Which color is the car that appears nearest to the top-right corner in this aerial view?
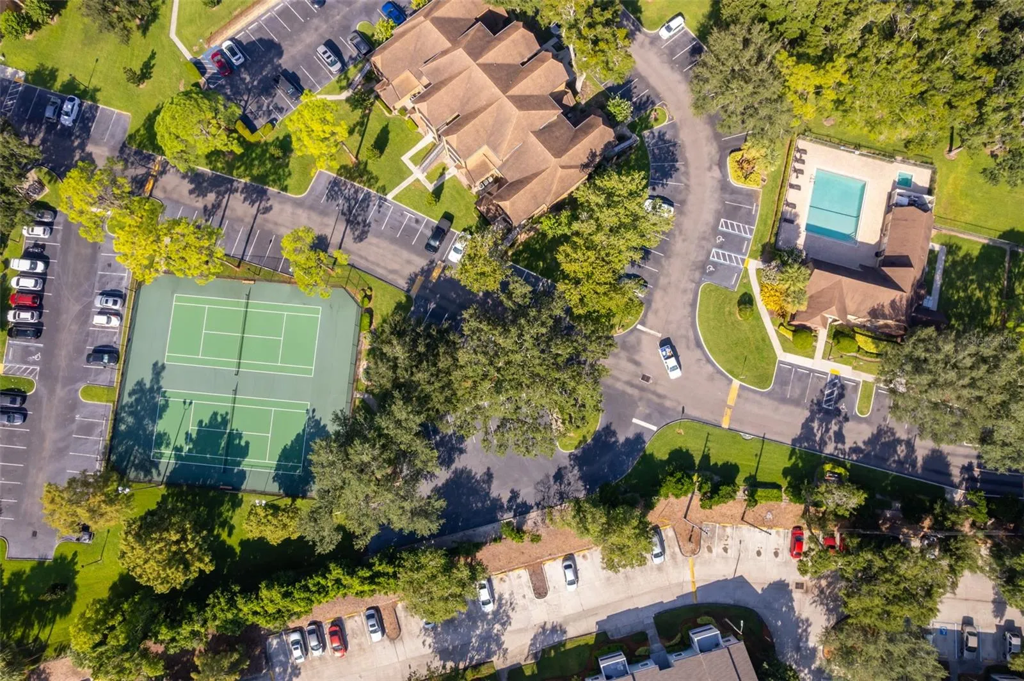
white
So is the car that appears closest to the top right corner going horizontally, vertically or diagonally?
diagonally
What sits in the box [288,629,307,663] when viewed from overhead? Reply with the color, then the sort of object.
white car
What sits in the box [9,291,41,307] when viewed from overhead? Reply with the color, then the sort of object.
red car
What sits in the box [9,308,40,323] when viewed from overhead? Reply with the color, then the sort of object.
white car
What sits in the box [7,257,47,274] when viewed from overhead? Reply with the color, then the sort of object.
white vehicle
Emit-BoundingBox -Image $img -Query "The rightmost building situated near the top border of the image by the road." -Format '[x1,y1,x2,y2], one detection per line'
[366,0,622,235]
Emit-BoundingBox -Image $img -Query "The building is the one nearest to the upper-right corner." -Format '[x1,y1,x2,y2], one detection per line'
[790,207,944,339]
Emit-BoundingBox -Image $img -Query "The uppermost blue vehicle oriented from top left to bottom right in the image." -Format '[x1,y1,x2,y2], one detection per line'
[380,0,405,27]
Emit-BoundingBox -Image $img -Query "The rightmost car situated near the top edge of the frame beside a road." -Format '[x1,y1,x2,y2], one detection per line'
[658,14,686,40]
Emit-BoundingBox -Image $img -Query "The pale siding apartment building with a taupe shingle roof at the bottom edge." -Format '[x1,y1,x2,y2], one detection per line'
[598,614,757,681]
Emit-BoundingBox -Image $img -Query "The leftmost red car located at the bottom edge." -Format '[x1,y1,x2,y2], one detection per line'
[328,622,346,655]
